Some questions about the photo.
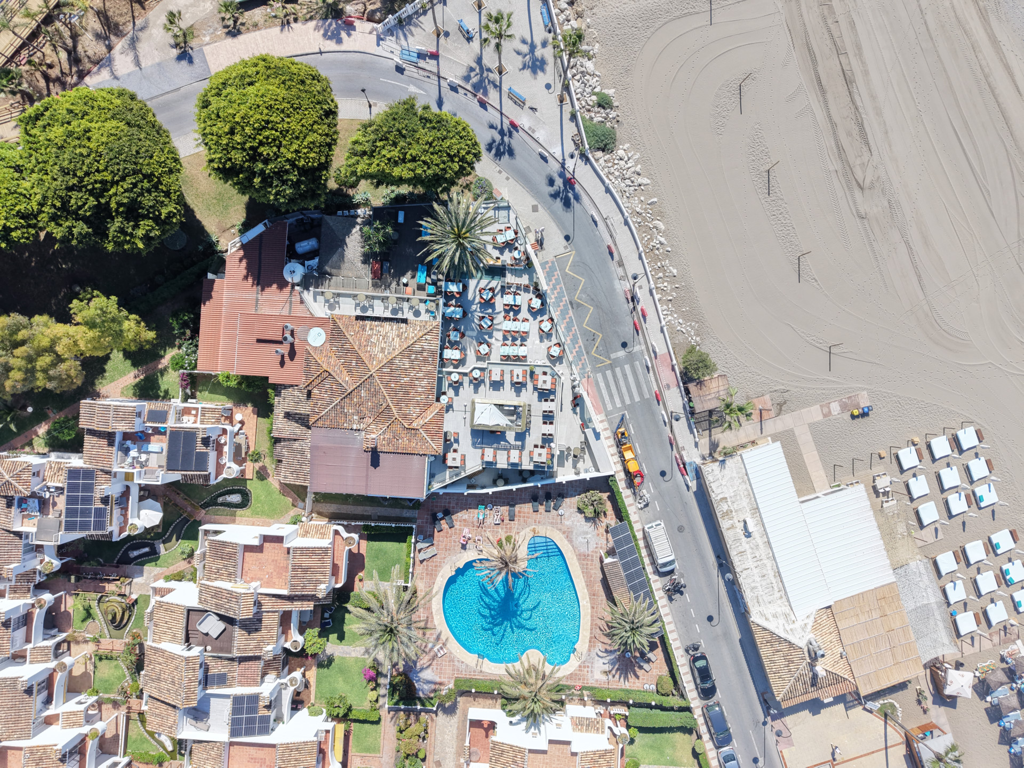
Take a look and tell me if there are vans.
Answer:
Yes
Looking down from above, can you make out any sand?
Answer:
Yes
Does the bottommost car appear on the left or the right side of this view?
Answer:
right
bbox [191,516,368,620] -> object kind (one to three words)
house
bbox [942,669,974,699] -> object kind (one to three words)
umbrella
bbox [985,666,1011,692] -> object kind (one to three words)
umbrella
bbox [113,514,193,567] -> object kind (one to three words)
pond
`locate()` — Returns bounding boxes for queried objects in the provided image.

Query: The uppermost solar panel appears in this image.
[147,410,167,422]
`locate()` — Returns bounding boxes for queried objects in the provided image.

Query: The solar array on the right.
[610,522,659,617]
